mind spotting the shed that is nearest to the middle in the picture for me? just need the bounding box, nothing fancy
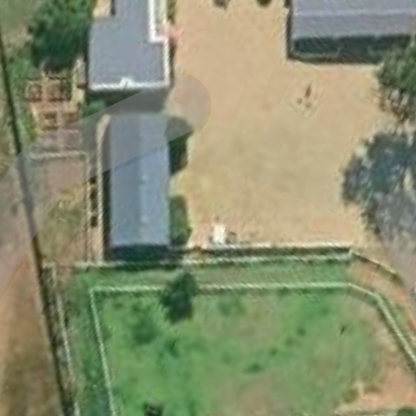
[110,113,171,254]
